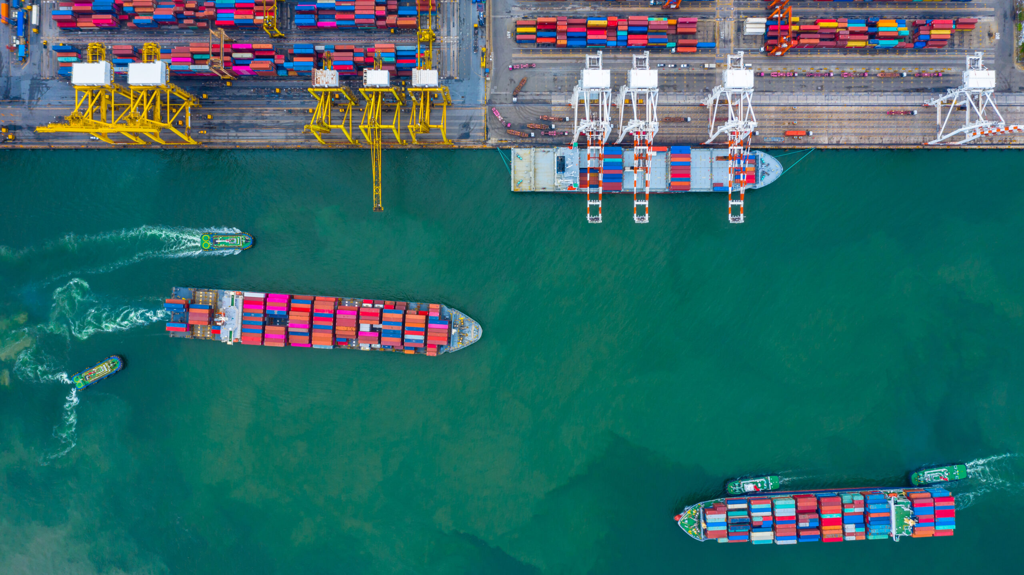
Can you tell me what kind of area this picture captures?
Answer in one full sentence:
What you see here is a port.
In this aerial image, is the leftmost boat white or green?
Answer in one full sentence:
The color of the leftmost boat is green.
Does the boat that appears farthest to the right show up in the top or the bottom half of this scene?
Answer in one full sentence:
Seen from above, the boat that appears farthest to the right lies in the bottom half of the view.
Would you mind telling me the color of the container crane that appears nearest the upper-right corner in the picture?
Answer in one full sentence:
The color of the container crane that appears nearest the upper-right corner is white.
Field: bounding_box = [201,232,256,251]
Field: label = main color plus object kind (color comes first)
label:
green boat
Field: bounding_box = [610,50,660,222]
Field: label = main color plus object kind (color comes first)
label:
white container crane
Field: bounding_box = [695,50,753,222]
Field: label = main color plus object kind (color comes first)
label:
white container crane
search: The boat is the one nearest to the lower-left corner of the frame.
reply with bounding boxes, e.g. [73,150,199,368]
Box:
[73,356,124,390]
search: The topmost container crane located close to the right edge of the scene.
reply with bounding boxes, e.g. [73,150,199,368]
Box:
[919,50,1024,145]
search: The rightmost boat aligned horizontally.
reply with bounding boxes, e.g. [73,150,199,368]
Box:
[909,462,967,486]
